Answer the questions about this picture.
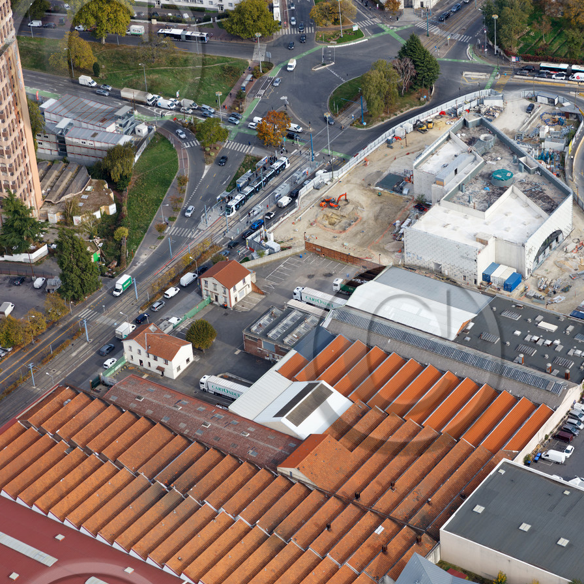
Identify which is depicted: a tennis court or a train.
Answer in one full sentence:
Looking from above, you can make out a train.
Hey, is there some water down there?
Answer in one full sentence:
No, the picture contains no water.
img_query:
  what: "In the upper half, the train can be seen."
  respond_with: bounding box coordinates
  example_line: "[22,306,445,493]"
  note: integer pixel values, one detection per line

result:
[226,158,289,213]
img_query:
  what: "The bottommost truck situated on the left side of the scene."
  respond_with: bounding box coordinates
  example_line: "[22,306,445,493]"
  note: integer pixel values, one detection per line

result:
[199,375,255,397]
